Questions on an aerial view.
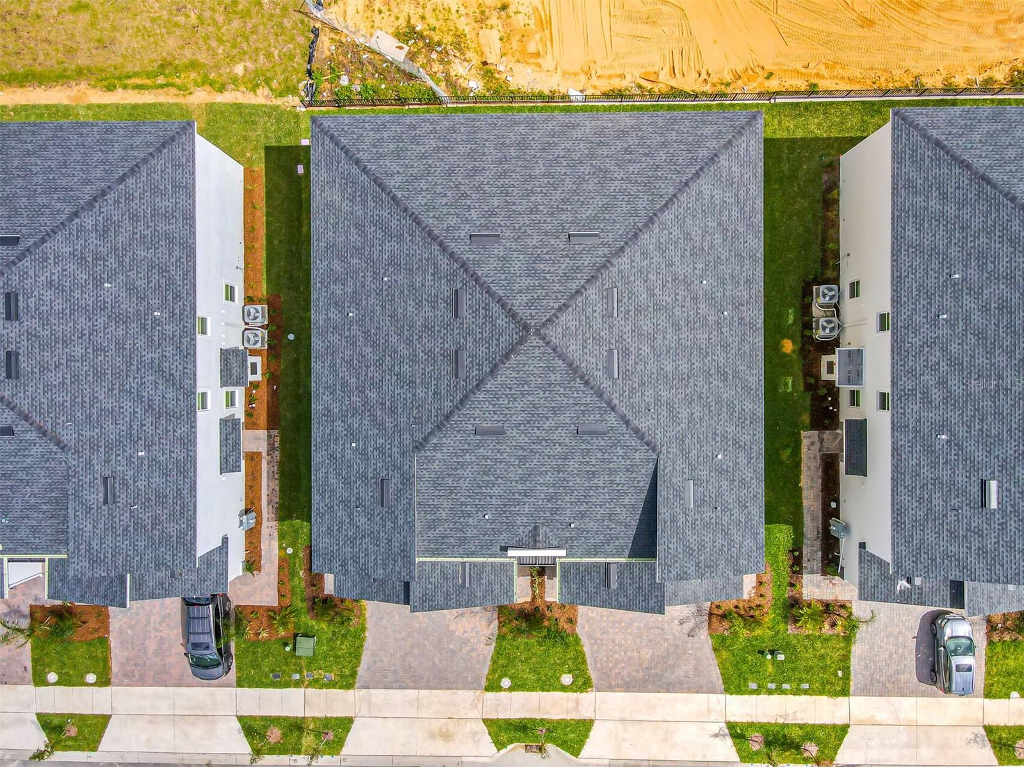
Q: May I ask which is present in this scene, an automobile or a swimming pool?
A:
automobile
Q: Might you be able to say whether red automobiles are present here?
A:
No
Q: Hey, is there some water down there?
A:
No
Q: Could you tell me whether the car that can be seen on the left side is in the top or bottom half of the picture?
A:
bottom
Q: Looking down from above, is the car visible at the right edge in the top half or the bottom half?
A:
bottom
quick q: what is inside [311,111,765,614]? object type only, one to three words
house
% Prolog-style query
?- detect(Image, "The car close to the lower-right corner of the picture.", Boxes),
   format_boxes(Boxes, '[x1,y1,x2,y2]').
[931,612,984,699]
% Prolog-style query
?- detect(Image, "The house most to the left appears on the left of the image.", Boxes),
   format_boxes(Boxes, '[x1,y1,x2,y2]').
[0,117,247,609]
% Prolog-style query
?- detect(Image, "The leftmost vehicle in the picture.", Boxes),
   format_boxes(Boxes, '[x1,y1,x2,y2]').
[188,595,235,682]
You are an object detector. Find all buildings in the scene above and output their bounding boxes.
[311,111,765,614]
[836,108,1024,616]
[0,117,247,609]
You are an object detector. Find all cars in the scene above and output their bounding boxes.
[931,612,984,699]
[188,595,235,682]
